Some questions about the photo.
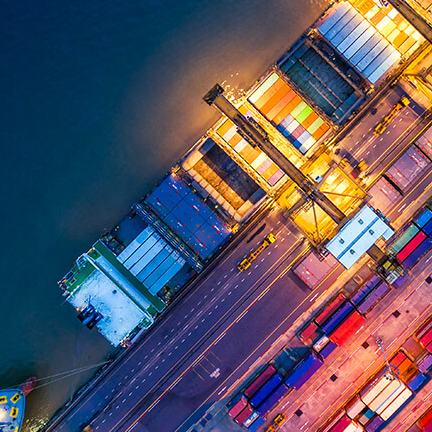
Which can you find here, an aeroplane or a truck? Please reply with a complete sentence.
Of the two, only a truck appears.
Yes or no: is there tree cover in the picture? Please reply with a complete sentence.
No, there's no tree cover in this view.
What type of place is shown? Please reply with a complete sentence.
This looks like a port.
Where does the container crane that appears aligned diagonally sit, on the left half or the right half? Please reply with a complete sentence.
The container crane that appears aligned diagonally sits on the right side.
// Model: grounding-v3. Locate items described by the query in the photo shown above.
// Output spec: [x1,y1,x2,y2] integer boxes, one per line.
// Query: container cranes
[200,82,413,290]
[373,0,432,127]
